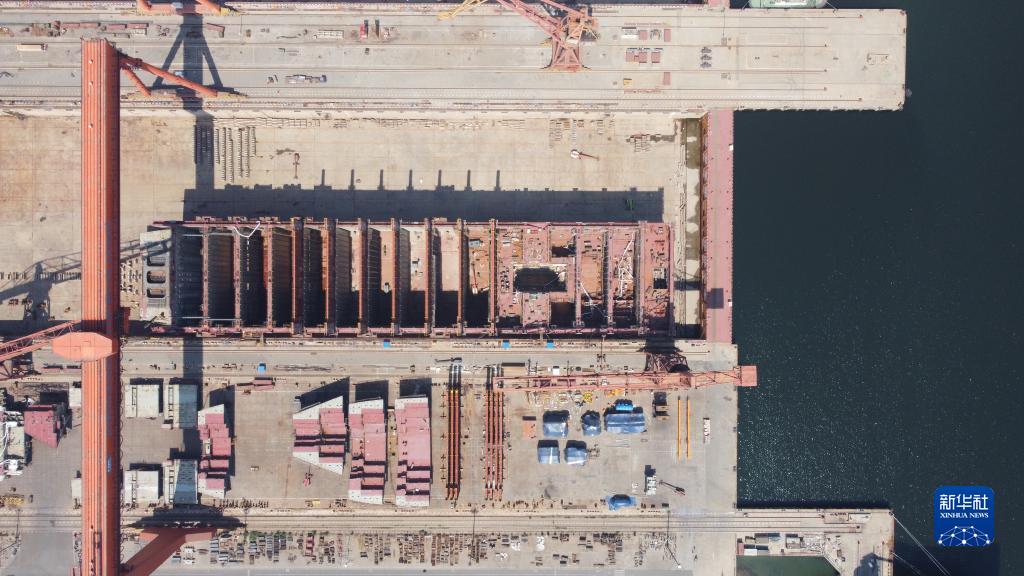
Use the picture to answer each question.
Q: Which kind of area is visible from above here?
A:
port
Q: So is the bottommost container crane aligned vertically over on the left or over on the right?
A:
left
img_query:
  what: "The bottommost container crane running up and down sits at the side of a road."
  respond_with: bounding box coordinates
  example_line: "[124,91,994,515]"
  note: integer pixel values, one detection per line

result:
[52,37,251,576]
